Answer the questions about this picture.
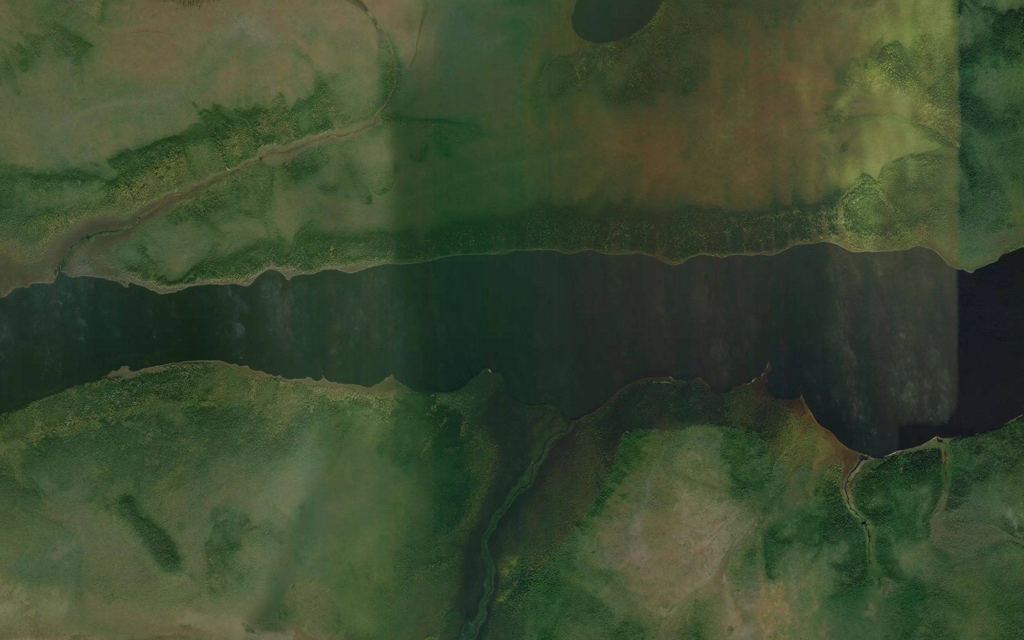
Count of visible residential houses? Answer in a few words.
none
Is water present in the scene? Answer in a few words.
Yes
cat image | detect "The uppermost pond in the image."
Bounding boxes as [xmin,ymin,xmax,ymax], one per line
[572,0,661,43]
